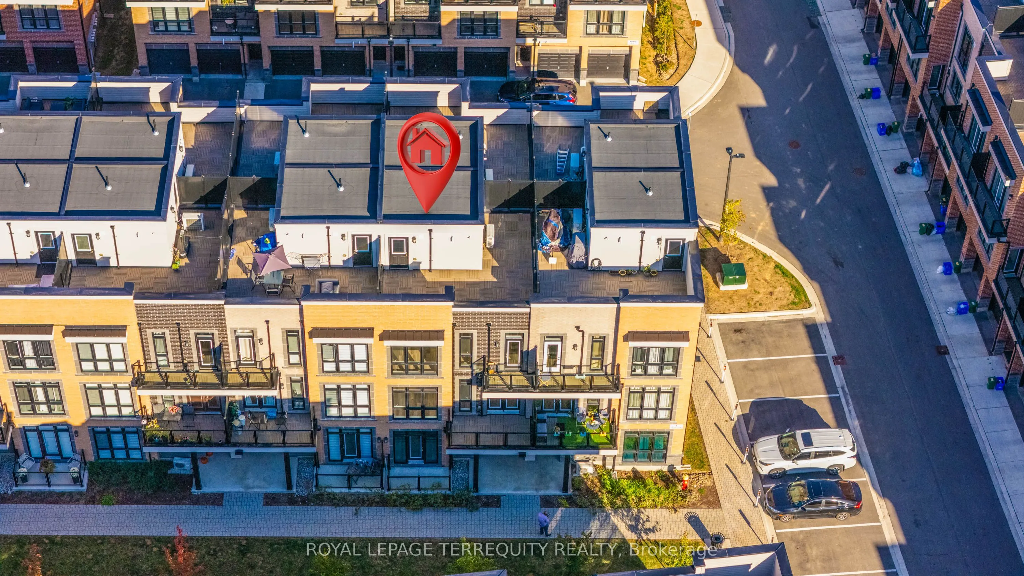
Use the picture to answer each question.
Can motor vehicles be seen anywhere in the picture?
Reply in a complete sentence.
Yes, the image includes a motor vehicle.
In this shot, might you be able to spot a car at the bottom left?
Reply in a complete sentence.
No, I see no car at the bottom left.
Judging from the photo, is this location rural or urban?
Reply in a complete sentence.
From above, the setting appears urban.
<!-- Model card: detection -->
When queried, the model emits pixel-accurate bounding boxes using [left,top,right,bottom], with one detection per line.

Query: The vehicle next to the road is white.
[751,429,860,483]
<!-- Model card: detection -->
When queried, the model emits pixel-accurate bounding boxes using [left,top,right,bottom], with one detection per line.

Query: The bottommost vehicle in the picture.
[762,479,865,526]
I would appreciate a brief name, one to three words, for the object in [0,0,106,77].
house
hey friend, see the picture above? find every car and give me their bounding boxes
[762,479,865,526]
[496,77,580,101]
[751,429,860,483]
